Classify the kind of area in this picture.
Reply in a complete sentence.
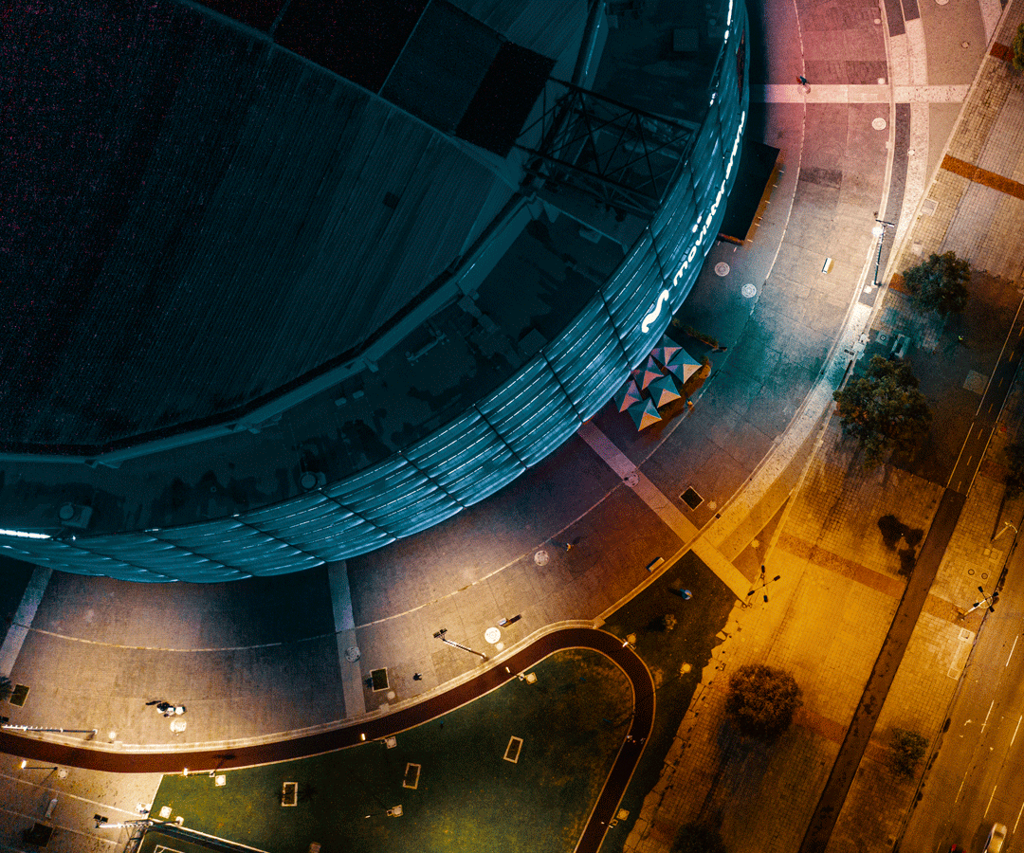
What you see here is a sports ground.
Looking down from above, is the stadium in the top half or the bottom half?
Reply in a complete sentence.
It is in the top half that the stadium appears.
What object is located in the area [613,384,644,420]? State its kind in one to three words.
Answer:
tent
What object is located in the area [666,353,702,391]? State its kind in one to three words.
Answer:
tent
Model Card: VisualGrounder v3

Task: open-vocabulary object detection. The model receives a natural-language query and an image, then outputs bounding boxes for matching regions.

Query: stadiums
[0,0,755,589]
